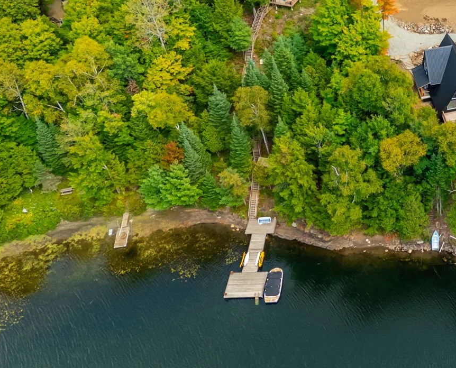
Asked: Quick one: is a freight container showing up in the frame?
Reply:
No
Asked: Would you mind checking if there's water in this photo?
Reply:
Yes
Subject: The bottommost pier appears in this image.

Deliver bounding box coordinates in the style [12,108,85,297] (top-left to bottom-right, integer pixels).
[223,272,269,299]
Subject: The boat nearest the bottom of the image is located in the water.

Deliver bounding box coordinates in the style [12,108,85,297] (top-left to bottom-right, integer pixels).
[262,265,282,302]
